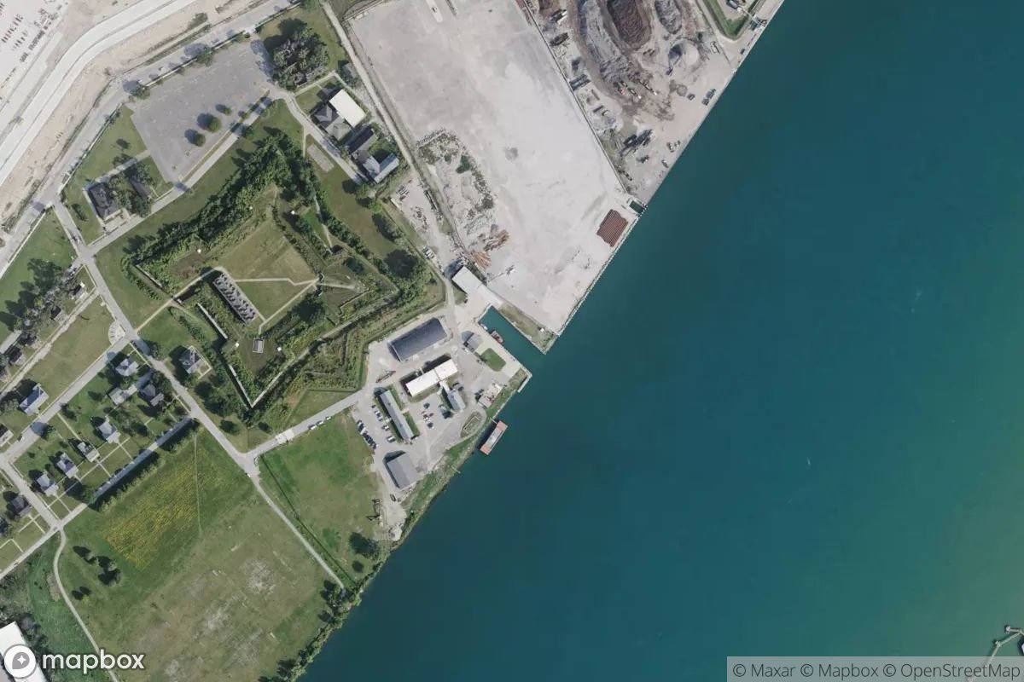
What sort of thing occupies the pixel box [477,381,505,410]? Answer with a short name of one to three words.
building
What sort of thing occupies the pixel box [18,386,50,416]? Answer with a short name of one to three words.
house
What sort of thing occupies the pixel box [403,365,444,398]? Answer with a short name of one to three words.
building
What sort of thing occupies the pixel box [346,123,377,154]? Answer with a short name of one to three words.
house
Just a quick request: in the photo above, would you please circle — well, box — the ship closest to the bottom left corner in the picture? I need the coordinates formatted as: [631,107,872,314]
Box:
[479,421,507,455]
